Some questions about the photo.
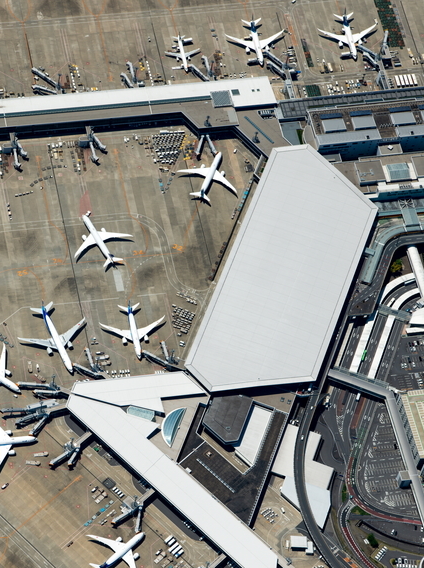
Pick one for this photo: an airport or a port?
airport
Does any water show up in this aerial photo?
No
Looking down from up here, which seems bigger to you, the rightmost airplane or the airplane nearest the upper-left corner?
the rightmost airplane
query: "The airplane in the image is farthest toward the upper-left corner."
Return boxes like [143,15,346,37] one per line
[166,38,200,70]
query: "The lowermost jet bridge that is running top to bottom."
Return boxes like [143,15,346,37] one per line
[130,505,144,532]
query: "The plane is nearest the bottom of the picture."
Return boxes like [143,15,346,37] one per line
[87,533,146,568]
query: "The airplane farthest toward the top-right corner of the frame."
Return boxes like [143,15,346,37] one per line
[319,10,377,59]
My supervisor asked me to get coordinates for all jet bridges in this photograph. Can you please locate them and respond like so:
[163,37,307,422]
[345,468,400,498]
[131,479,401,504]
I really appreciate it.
[188,64,210,81]
[9,153,20,167]
[380,31,390,55]
[142,349,174,371]
[362,53,380,70]
[205,132,219,155]
[32,68,61,90]
[14,137,27,156]
[267,62,287,79]
[84,347,96,372]
[27,413,50,436]
[192,132,205,155]
[262,50,287,70]
[130,505,144,532]
[358,45,382,63]
[92,132,106,152]
[32,84,60,95]
[121,73,136,88]
[1,400,62,414]
[202,58,212,77]
[127,62,138,81]
[16,410,48,426]
[34,388,63,397]
[86,141,98,161]
[64,446,81,466]
[160,341,171,363]
[50,443,80,467]
[18,381,59,389]
[73,363,98,379]
[111,505,141,524]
